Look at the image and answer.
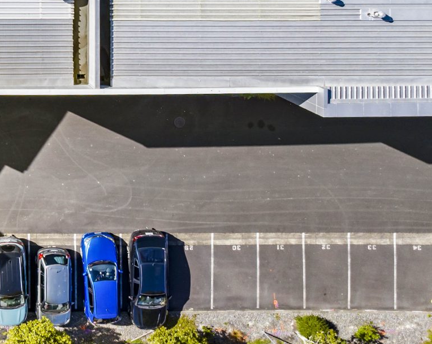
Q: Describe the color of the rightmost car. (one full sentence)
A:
The color of the rightmost car is black.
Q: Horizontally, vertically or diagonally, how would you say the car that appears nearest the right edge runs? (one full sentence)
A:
I'd say the car that appears nearest the right edge is aligned vertically in the picture.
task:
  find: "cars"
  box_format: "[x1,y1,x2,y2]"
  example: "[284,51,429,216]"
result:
[127,226,175,326]
[0,233,33,324]
[34,244,77,326]
[79,229,126,324]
